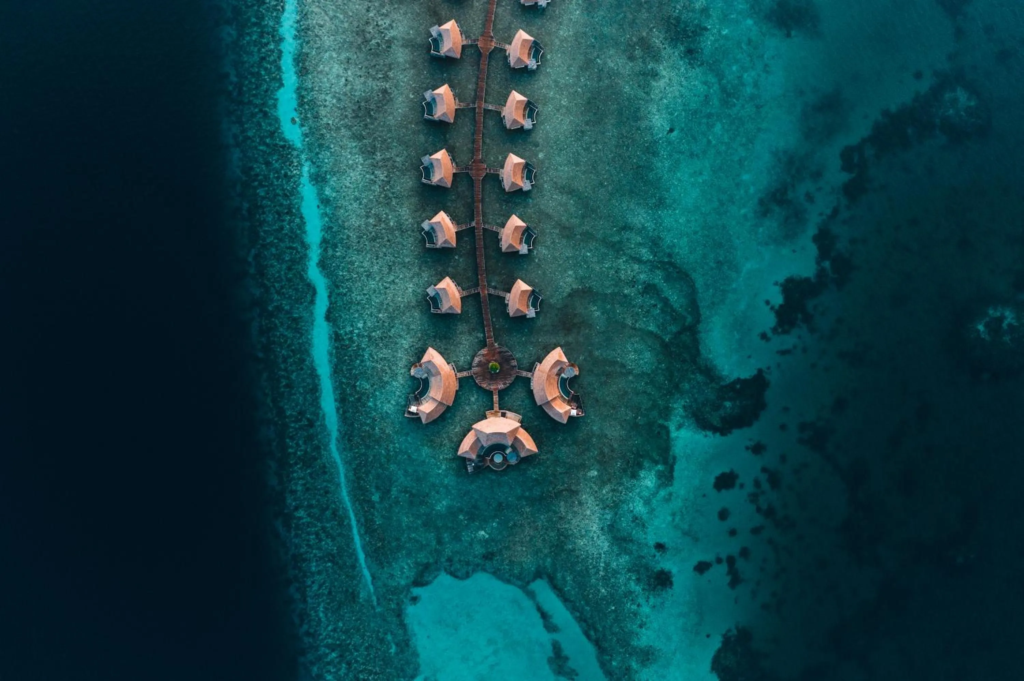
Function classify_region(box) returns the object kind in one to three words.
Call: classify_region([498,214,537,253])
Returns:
house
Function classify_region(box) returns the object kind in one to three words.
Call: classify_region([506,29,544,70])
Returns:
house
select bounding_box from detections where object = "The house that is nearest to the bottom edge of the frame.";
[457,410,538,474]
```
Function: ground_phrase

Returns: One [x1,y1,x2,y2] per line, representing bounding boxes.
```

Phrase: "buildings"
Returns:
[530,347,584,424]
[427,276,464,316]
[498,214,537,253]
[420,149,457,188]
[429,19,466,60]
[422,83,460,124]
[506,29,544,70]
[422,210,458,251]
[500,90,538,130]
[404,347,459,424]
[457,410,538,474]
[498,152,536,191]
[504,279,543,317]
